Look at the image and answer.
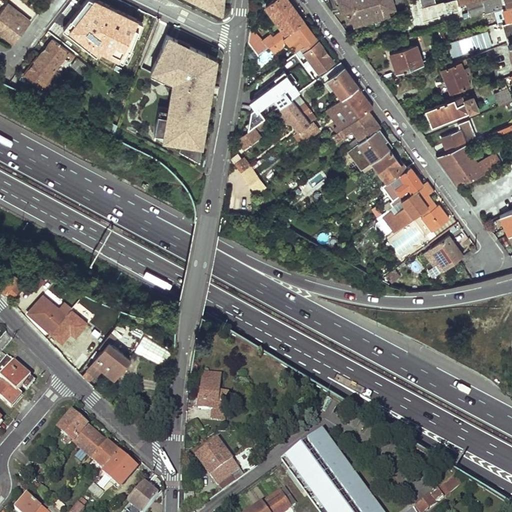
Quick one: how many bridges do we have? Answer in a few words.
1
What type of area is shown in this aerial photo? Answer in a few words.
residential area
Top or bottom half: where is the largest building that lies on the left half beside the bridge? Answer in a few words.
top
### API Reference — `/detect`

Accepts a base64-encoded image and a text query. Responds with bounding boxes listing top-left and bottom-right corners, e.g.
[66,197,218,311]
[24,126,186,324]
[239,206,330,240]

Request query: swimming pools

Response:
[317,232,330,244]
[409,260,424,274]
[257,52,273,68]
[309,172,325,188]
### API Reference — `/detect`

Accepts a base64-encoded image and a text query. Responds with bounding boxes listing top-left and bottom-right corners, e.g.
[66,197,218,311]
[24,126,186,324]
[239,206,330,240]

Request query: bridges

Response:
[172,210,224,322]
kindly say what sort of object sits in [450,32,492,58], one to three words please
building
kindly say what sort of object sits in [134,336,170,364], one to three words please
greenhouse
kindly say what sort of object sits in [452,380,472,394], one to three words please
vehicle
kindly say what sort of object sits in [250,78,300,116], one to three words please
house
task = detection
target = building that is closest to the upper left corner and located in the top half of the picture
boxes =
[0,2,32,47]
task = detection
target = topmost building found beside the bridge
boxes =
[151,40,219,165]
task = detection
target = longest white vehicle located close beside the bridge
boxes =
[139,269,176,294]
